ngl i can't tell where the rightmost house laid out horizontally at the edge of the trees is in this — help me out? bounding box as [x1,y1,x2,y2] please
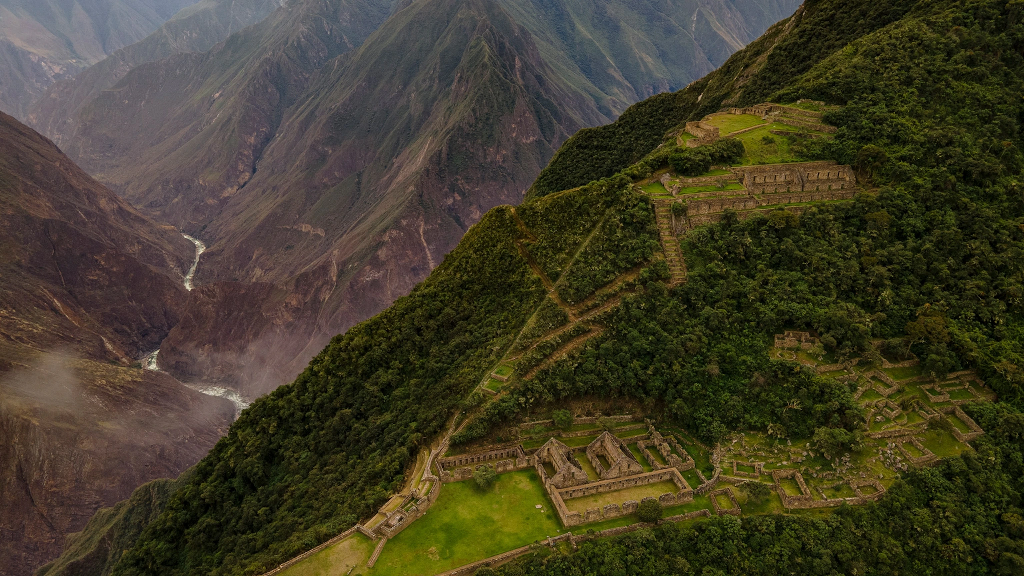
[772,331,816,352]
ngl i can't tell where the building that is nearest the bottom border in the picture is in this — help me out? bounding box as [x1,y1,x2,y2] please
[551,464,693,528]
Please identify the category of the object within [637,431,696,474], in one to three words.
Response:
house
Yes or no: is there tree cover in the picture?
Yes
